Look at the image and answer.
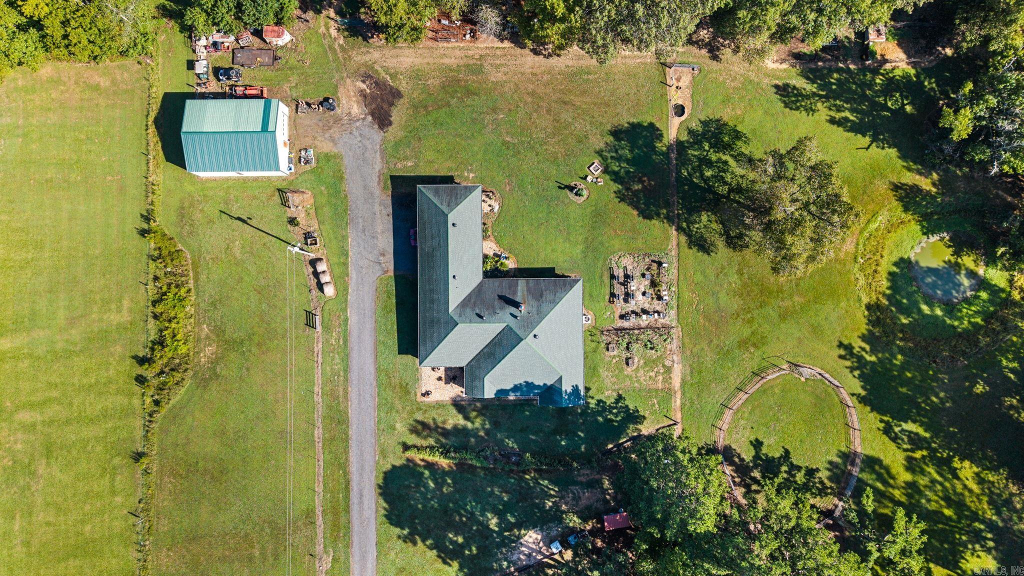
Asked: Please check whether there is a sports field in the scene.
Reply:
No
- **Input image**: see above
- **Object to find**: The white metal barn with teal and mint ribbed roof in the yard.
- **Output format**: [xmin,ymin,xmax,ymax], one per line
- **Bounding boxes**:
[179,97,290,176]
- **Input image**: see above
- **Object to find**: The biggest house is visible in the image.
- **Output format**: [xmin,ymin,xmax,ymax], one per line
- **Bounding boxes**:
[417,184,585,405]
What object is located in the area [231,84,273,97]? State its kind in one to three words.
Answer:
vehicle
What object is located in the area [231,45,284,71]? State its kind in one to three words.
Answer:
trailer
